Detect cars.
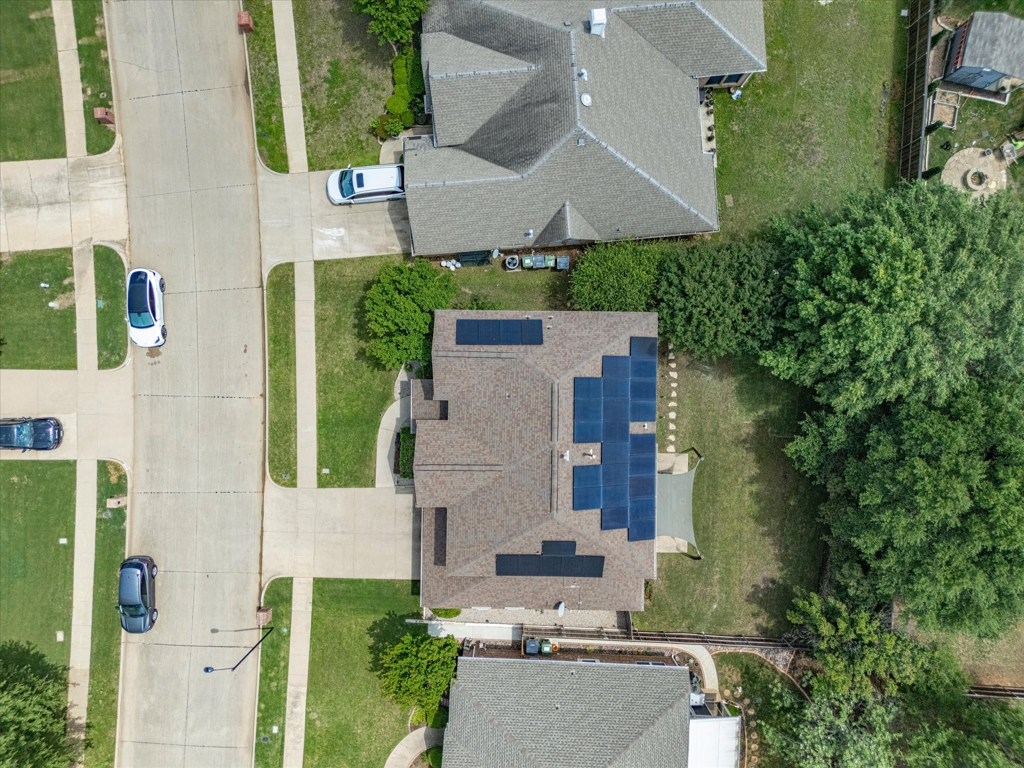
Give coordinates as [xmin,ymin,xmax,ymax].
[326,162,406,205]
[114,560,159,635]
[0,414,61,456]
[122,267,167,347]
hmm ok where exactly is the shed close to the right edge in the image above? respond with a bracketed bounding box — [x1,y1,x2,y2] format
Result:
[945,11,1024,93]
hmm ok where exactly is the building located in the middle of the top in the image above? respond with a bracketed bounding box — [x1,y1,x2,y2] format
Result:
[401,0,768,256]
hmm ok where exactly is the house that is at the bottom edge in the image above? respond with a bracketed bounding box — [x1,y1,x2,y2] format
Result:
[441,646,692,768]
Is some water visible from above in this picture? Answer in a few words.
No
